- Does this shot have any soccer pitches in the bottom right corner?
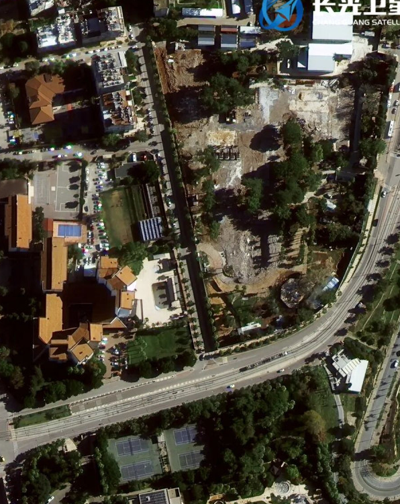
No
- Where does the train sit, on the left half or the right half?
right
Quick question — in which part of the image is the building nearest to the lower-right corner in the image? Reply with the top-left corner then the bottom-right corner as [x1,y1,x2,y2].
[332,349,367,394]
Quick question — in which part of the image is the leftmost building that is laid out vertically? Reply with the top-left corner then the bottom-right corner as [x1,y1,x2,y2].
[0,180,34,254]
